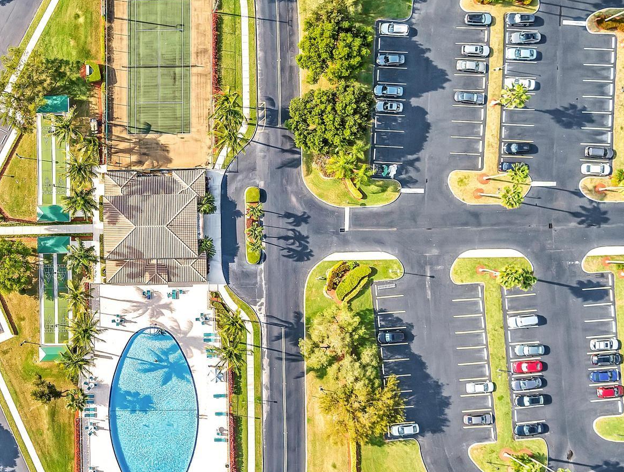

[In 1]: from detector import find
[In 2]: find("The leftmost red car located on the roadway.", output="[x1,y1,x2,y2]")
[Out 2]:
[512,360,542,374]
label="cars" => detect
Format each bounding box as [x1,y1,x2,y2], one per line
[505,77,534,91]
[380,22,407,36]
[457,59,485,72]
[595,386,624,398]
[513,422,543,437]
[511,31,540,45]
[514,344,544,357]
[373,83,403,97]
[514,394,543,407]
[590,369,619,382]
[507,47,537,61]
[511,377,542,391]
[390,422,420,436]
[461,44,489,58]
[580,163,610,175]
[585,146,613,159]
[375,52,405,66]
[505,12,534,27]
[512,360,542,374]
[463,412,493,426]
[454,92,483,104]
[464,381,495,394]
[589,337,619,350]
[502,143,530,155]
[590,352,620,365]
[508,315,537,328]
[463,13,492,26]
[498,161,528,173]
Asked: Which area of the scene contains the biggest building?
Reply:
left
